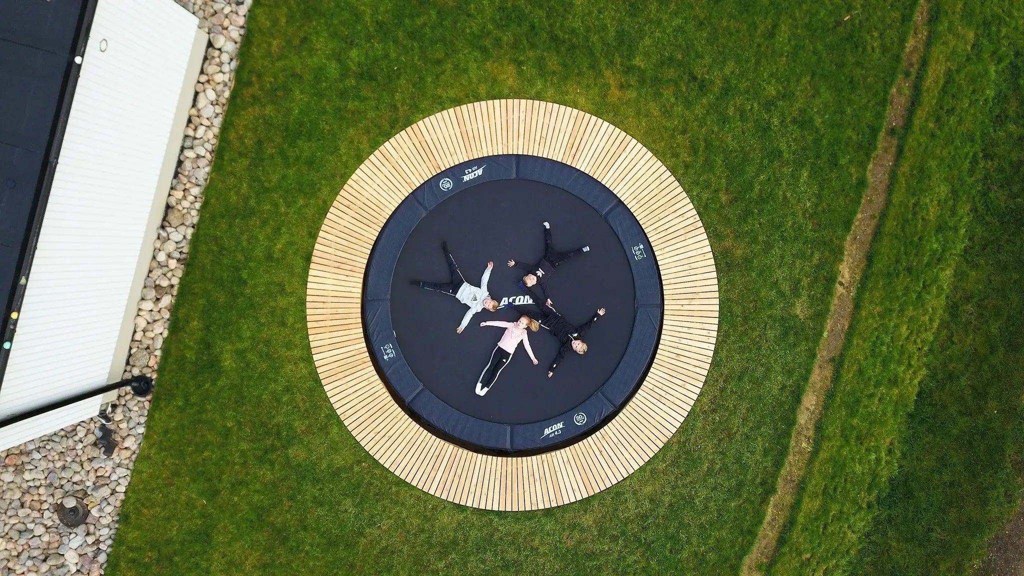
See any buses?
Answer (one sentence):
No, I find no bus anywhere in the image.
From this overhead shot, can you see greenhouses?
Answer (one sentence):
No, the frame has no greenhouse in it.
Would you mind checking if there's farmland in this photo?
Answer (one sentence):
No, no farmland is visible.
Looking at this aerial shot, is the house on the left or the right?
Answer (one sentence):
The house appears in the left half of the scene.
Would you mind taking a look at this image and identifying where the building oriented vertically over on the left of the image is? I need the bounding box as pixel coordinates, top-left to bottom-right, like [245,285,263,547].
[0,0,207,450]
